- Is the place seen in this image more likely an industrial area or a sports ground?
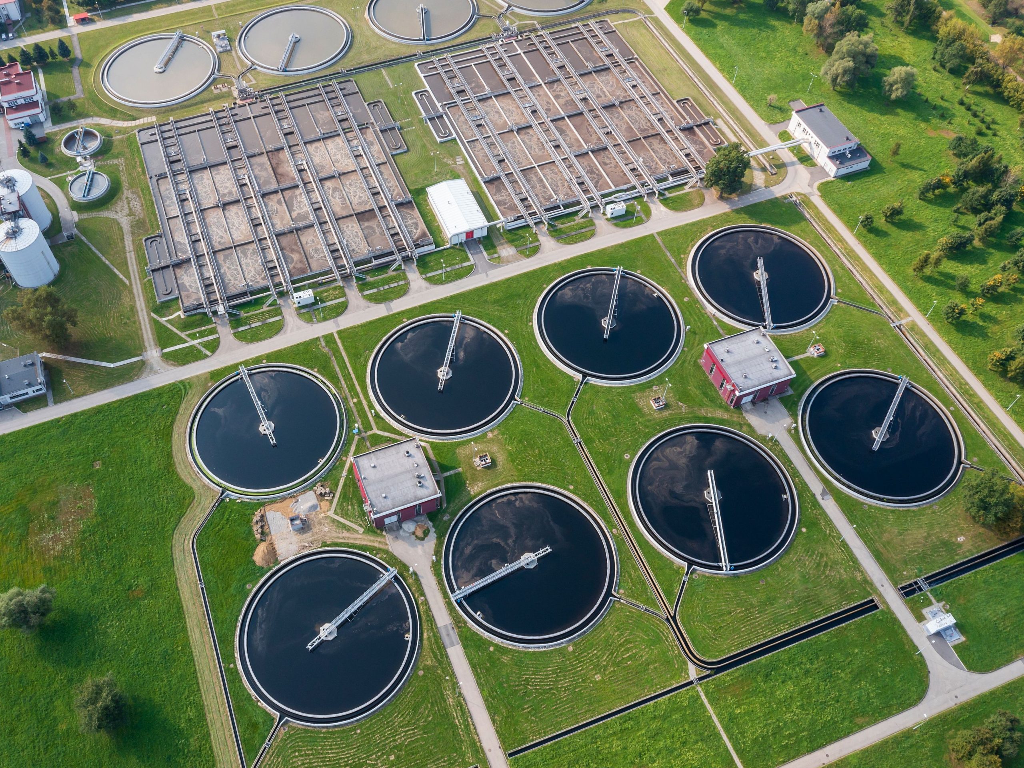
industrial area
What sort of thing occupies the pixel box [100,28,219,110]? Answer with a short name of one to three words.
storage tank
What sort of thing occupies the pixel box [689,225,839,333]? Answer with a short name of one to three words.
storage tank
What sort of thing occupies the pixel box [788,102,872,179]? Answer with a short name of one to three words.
building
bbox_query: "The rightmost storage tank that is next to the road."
[798,369,972,508]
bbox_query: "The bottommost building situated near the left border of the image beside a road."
[0,353,51,414]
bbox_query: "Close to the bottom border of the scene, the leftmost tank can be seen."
[236,547,421,731]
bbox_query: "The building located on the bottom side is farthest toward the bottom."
[352,437,442,537]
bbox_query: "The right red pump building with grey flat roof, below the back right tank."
[703,326,795,415]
